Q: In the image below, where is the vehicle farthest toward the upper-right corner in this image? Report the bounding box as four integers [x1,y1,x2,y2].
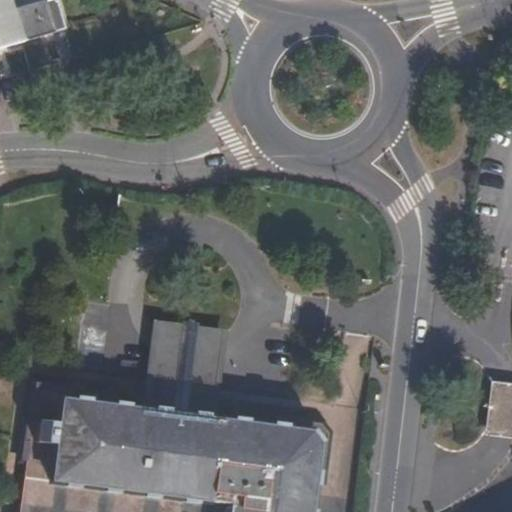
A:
[490,134,510,147]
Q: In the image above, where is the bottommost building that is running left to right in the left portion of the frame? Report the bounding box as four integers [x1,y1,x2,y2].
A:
[40,395,332,512]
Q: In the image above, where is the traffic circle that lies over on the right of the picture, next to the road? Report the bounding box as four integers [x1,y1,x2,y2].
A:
[236,4,408,174]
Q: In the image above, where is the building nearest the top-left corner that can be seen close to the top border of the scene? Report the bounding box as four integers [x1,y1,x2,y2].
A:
[0,0,68,52]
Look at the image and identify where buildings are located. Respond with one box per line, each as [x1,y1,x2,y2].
[486,382,512,440]
[40,395,332,512]
[0,0,68,52]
